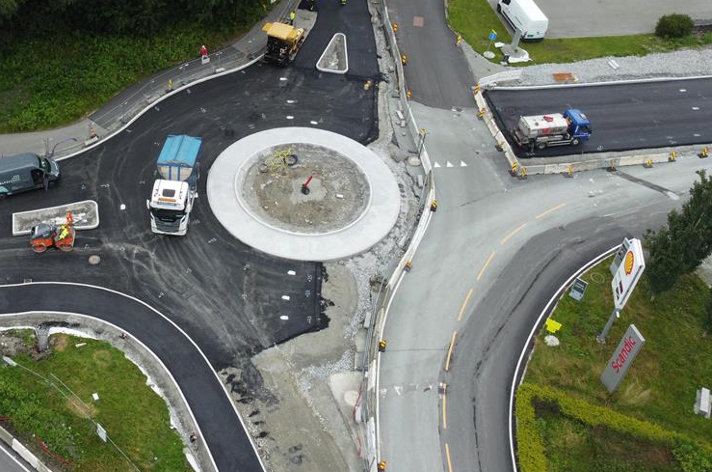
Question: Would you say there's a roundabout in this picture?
Yes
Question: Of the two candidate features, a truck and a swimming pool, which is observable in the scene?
truck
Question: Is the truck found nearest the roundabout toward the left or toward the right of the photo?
left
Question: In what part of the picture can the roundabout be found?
center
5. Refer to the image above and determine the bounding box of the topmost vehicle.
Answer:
[498,0,546,42]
